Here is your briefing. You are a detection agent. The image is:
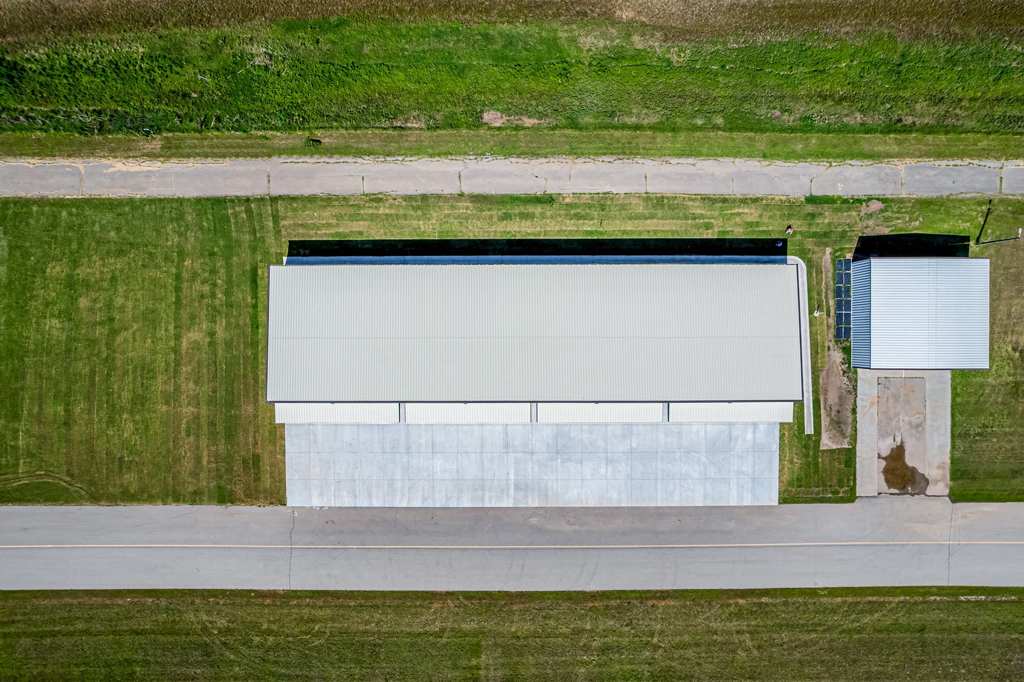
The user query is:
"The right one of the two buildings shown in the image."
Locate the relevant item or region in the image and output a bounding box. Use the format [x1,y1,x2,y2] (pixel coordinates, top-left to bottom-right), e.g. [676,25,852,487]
[851,254,990,370]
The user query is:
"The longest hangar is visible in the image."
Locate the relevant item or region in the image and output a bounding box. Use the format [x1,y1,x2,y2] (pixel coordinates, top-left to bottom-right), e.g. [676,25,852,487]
[264,263,804,423]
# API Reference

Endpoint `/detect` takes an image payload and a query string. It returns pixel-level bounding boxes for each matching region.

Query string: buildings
[264,263,804,423]
[851,254,990,370]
